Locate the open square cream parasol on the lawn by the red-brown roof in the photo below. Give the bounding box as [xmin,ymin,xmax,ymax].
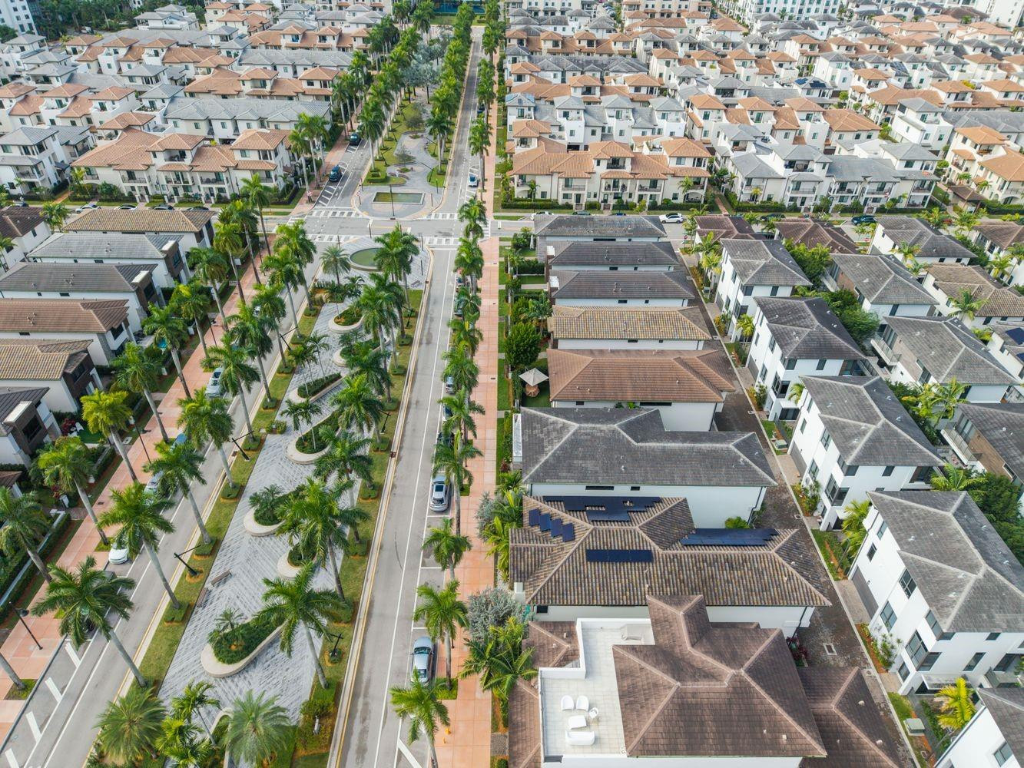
[517,369,548,394]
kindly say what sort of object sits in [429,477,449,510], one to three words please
car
